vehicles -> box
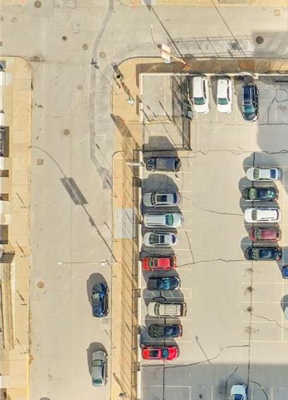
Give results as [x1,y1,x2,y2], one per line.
[241,84,260,120]
[143,346,178,361]
[90,282,110,317]
[146,275,182,290]
[215,76,235,113]
[145,155,181,172]
[142,254,177,270]
[145,212,181,227]
[247,206,280,222]
[250,227,281,241]
[150,301,185,317]
[247,166,283,181]
[148,323,182,338]
[90,350,109,385]
[191,75,211,113]
[230,384,247,400]
[243,185,279,201]
[246,245,282,261]
[145,231,178,247]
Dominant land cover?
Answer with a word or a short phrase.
paved ground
